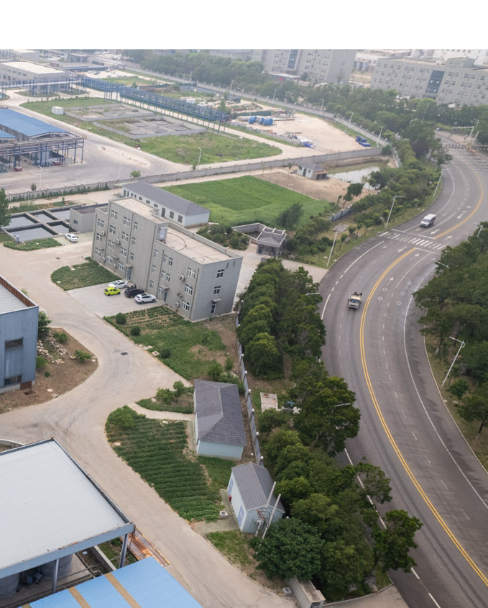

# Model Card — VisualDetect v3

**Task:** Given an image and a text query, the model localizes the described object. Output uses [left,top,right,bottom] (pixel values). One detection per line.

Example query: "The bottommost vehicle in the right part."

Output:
[349,291,364,308]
